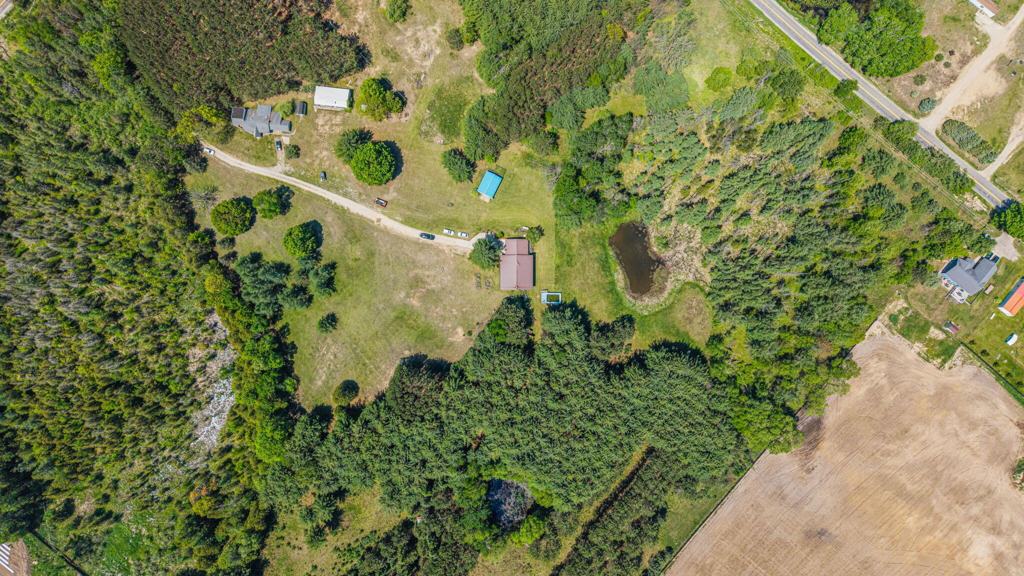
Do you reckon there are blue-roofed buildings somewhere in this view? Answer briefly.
Yes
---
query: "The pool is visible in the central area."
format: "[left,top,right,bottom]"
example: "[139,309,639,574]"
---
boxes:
[543,290,562,305]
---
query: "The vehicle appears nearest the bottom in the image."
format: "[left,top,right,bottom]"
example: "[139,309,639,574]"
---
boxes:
[1003,334,1017,347]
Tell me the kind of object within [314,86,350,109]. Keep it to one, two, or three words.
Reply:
barn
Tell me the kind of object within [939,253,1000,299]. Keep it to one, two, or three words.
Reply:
house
